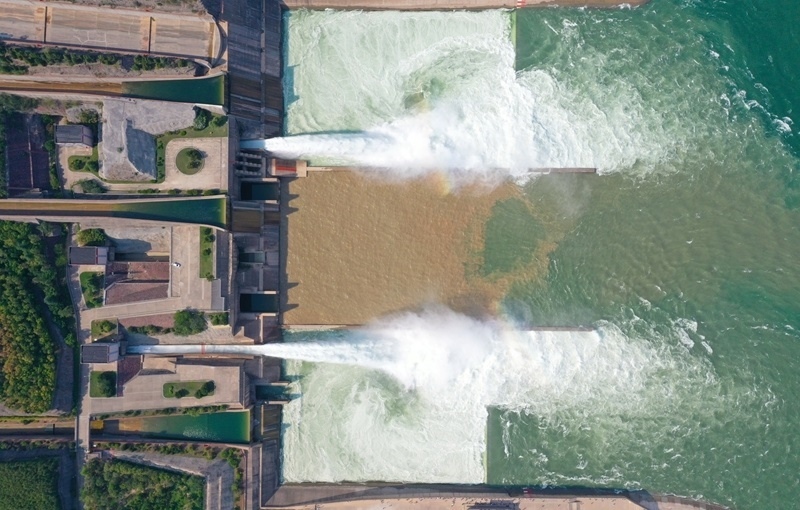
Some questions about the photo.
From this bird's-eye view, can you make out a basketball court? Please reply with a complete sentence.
No, the picture doesn't show any basketball court.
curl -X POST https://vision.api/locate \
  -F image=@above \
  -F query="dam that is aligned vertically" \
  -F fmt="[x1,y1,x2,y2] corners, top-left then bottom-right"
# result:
[206,0,283,510]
